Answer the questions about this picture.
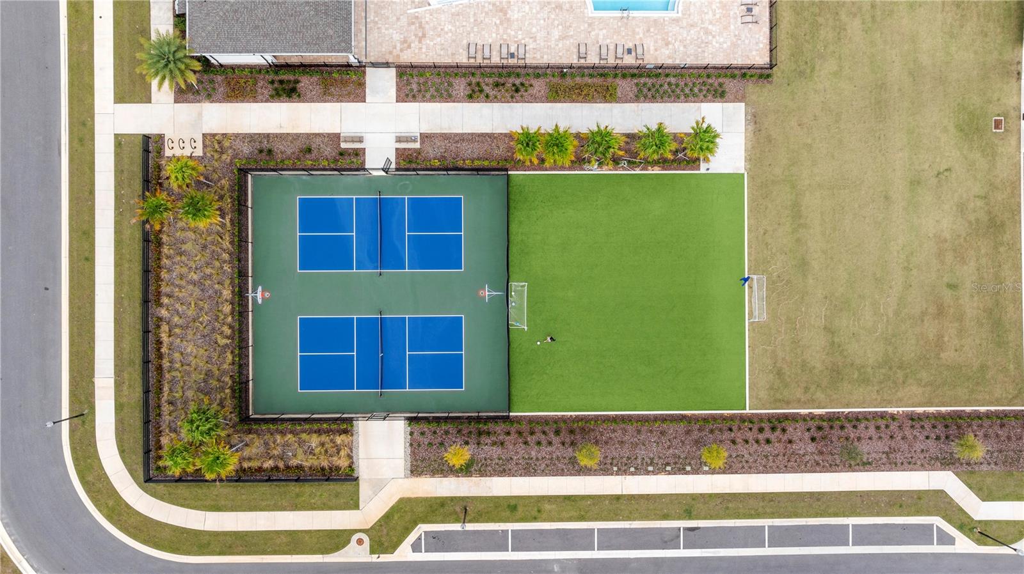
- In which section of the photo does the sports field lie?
right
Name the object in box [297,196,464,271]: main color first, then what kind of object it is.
blue sports court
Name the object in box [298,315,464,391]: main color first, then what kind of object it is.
blue sports court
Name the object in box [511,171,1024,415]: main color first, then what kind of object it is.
green sports field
